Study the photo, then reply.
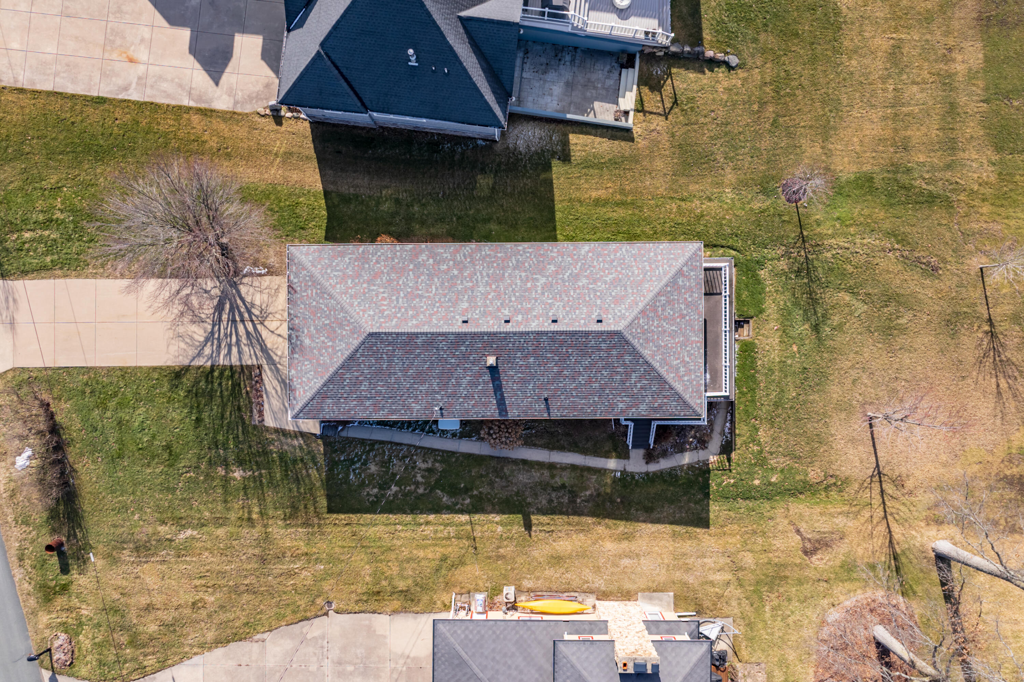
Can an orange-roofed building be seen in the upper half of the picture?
No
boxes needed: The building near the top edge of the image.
[275,0,523,149]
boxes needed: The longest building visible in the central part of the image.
[286,239,707,430]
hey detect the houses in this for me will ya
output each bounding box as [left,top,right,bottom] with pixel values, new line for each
[431,598,713,682]
[286,239,707,430]
[275,0,523,149]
